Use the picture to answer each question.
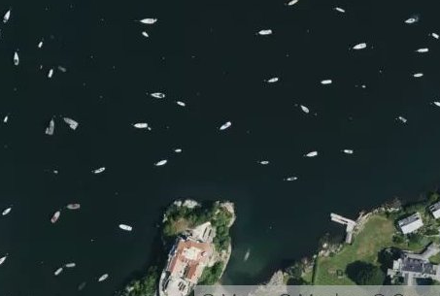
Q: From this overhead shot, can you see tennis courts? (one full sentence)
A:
No, the frame has no tennis court in it.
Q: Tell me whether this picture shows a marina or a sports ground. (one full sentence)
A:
What you see here is a marina.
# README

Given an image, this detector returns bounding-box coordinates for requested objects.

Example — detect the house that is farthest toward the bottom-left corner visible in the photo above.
[164,237,216,296]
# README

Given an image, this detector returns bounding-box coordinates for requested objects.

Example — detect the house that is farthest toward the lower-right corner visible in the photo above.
[389,258,438,291]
